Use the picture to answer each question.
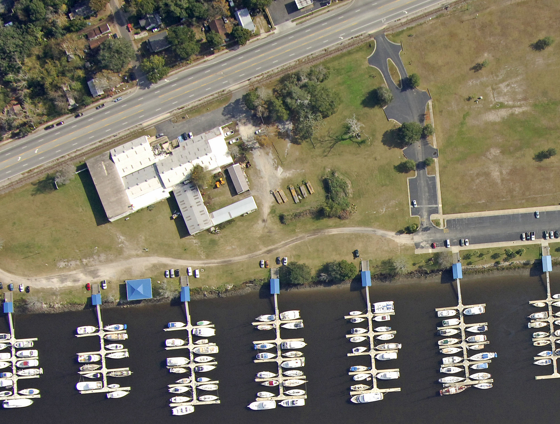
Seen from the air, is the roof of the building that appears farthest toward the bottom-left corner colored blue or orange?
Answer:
blue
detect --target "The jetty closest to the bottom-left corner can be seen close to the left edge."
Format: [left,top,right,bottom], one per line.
[0,312,41,400]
